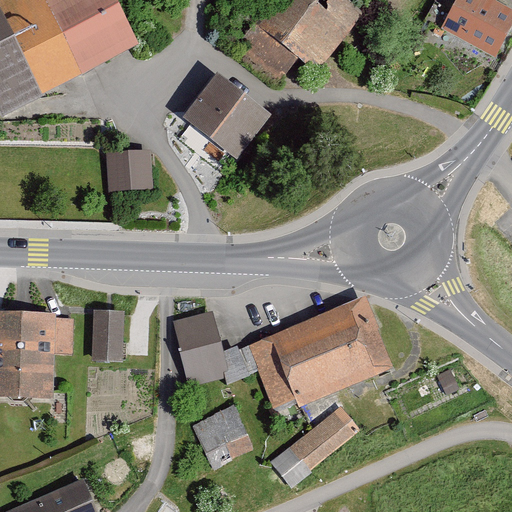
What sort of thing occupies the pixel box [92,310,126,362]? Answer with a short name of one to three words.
shed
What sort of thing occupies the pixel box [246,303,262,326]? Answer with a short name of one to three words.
car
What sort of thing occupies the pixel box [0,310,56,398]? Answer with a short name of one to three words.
house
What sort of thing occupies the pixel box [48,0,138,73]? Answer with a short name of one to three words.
barn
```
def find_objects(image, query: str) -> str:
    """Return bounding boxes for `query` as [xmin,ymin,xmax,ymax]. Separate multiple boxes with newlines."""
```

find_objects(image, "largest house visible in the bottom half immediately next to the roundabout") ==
[248,296,394,409]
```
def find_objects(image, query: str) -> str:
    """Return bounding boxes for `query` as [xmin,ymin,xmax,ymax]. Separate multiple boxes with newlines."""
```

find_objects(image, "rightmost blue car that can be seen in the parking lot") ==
[310,291,324,310]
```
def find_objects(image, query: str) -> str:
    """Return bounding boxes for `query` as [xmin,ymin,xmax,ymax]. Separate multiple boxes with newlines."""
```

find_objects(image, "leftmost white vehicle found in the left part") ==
[44,295,61,316]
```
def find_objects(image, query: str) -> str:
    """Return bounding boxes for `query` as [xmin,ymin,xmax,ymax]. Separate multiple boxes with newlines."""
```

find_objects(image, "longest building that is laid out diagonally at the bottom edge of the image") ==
[271,408,360,488]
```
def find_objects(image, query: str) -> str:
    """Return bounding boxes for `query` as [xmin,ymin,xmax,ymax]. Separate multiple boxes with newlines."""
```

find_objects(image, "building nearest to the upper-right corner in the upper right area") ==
[443,0,512,56]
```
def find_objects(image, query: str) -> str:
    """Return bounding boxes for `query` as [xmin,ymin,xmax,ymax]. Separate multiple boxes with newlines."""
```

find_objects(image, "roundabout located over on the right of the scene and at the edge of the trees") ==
[330,175,454,299]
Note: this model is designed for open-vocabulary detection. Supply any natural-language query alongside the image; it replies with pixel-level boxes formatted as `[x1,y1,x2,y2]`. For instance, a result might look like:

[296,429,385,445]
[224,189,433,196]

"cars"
[8,238,28,248]
[44,295,61,316]
[264,302,279,326]
[310,291,324,310]
[246,303,262,326]
[228,78,250,94]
